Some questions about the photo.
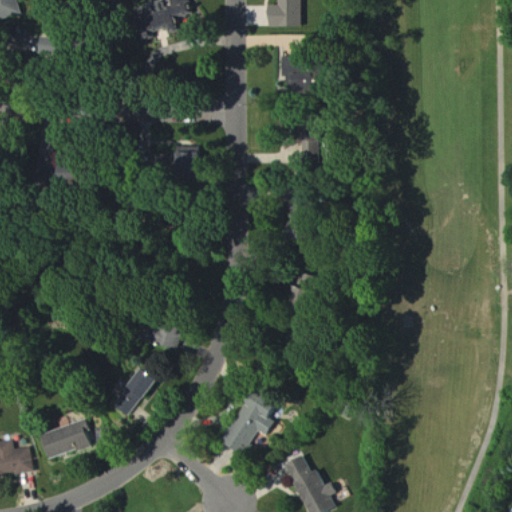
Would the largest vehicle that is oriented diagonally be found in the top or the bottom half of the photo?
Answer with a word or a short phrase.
bottom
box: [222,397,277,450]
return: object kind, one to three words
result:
house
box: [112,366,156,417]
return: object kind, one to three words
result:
house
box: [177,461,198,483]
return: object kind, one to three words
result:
vehicle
